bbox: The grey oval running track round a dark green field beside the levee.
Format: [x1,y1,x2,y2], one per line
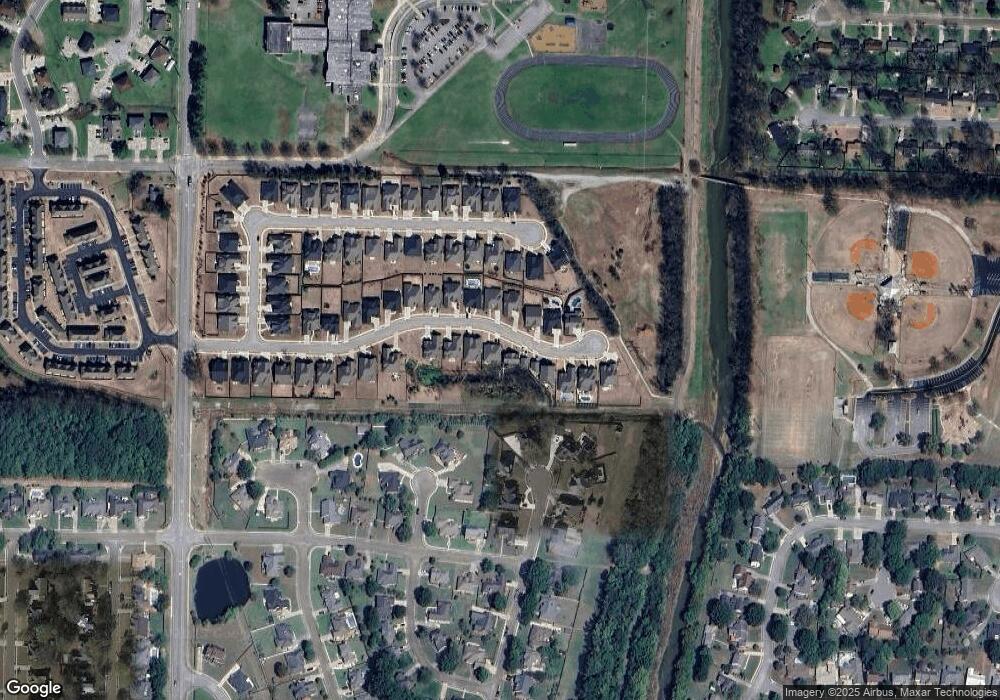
[494,54,682,142]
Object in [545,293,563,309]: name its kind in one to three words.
swimming pool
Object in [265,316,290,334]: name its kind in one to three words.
house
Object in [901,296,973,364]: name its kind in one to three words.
baseball field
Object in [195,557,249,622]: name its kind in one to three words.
pond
